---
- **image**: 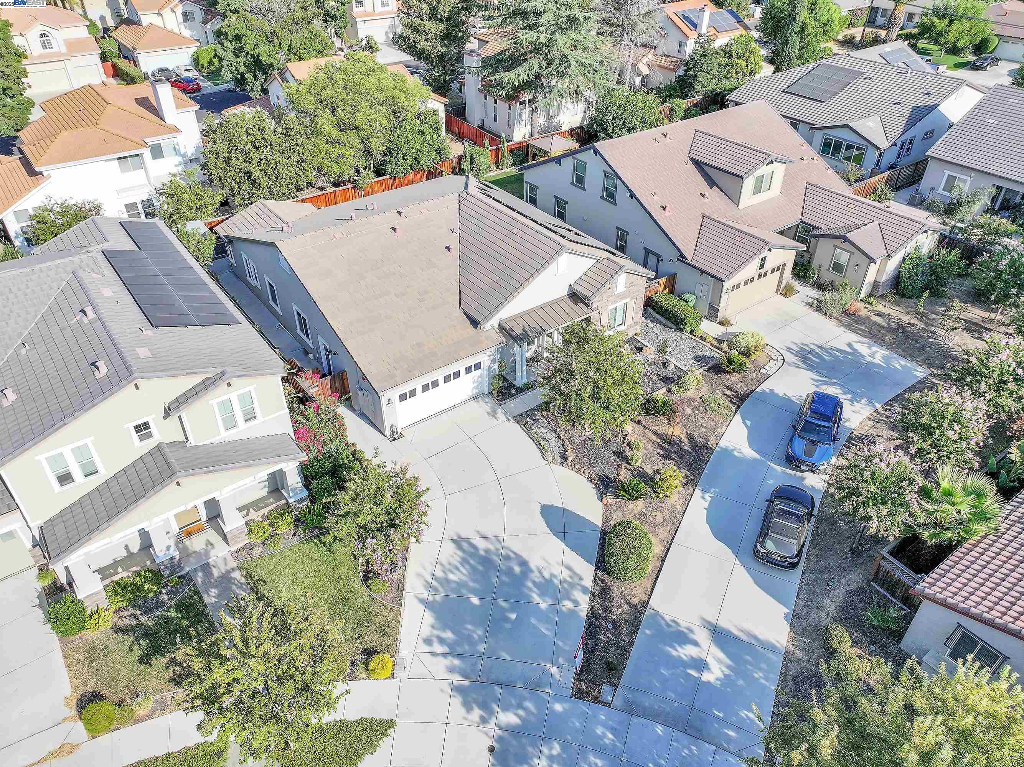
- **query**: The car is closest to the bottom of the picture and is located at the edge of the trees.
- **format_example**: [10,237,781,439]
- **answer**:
[757,476,821,567]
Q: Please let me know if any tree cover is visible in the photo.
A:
Yes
